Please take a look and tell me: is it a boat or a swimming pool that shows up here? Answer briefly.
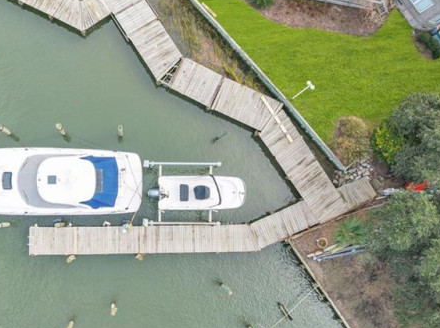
boat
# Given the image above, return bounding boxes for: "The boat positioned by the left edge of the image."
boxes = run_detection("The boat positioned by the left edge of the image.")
[0,146,143,216]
